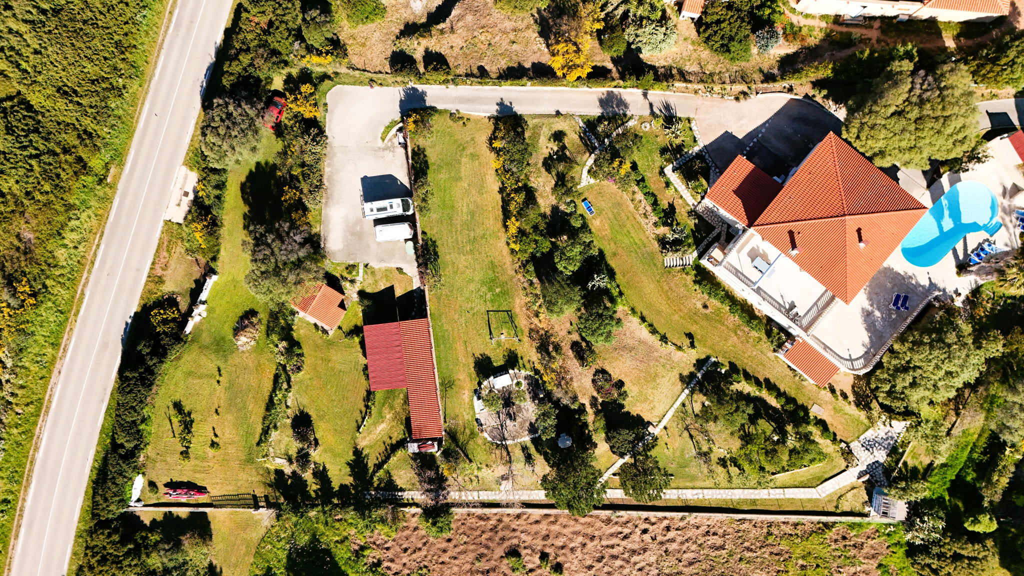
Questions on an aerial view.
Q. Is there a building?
Yes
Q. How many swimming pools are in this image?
one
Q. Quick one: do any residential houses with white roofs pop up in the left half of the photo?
No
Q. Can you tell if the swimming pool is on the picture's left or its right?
right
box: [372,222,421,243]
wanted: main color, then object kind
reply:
white camper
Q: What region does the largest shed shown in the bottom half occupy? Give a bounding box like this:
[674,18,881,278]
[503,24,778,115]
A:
[363,319,444,439]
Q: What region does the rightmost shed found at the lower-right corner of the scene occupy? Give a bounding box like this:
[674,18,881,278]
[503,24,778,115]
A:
[868,491,909,520]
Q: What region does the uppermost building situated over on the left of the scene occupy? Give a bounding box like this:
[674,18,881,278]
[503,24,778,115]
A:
[289,276,346,336]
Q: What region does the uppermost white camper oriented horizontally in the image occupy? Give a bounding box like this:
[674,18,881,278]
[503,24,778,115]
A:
[357,195,416,222]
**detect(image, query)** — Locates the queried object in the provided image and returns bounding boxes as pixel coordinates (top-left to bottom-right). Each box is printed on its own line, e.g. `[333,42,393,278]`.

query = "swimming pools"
[899,179,1004,269]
